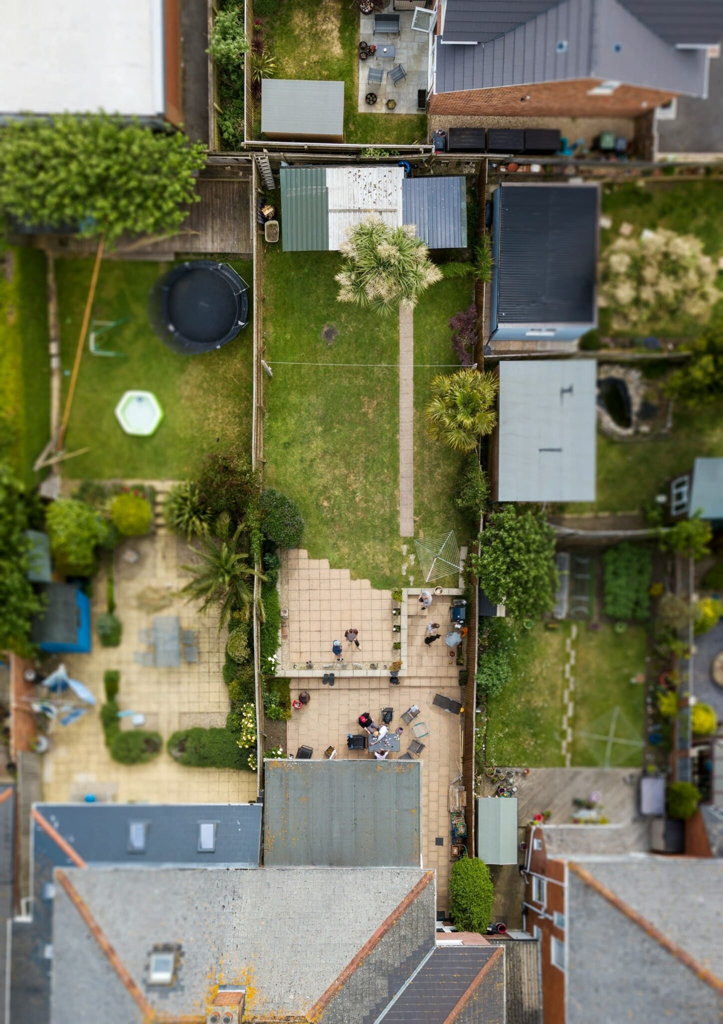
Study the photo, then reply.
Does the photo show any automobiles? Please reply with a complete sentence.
No, I find no automobile anywhere in the image.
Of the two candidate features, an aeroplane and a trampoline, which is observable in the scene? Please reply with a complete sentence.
This aerial view contains a trampoline.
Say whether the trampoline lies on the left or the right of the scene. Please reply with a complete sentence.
It is on the left.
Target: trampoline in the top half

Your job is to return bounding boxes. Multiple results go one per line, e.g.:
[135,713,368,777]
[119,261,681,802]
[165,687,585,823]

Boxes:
[153,249,249,351]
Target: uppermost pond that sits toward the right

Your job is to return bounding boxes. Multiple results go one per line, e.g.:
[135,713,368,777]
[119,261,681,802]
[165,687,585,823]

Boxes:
[597,363,648,437]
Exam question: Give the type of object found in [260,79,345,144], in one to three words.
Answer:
shed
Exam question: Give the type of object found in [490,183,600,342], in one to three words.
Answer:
shed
